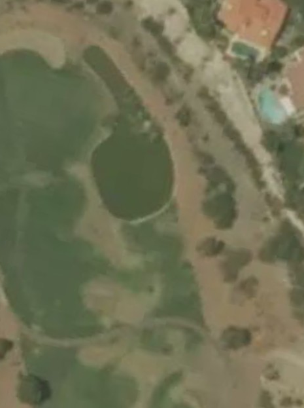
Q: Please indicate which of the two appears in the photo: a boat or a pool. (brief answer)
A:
pool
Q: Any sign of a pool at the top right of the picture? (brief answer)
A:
Yes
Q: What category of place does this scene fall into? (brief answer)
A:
golf course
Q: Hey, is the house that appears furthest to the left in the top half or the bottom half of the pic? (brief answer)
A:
top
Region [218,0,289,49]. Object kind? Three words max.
house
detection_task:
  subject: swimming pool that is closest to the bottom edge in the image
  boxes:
[255,84,295,125]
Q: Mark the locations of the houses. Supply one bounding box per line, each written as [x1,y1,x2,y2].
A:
[282,46,304,112]
[218,0,289,49]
